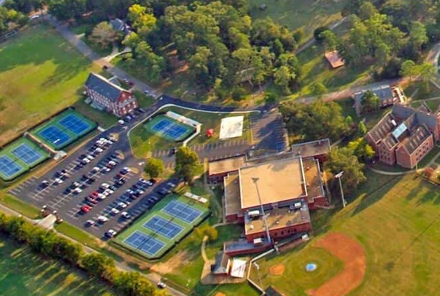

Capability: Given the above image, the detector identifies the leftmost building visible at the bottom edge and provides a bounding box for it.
[208,253,230,283]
